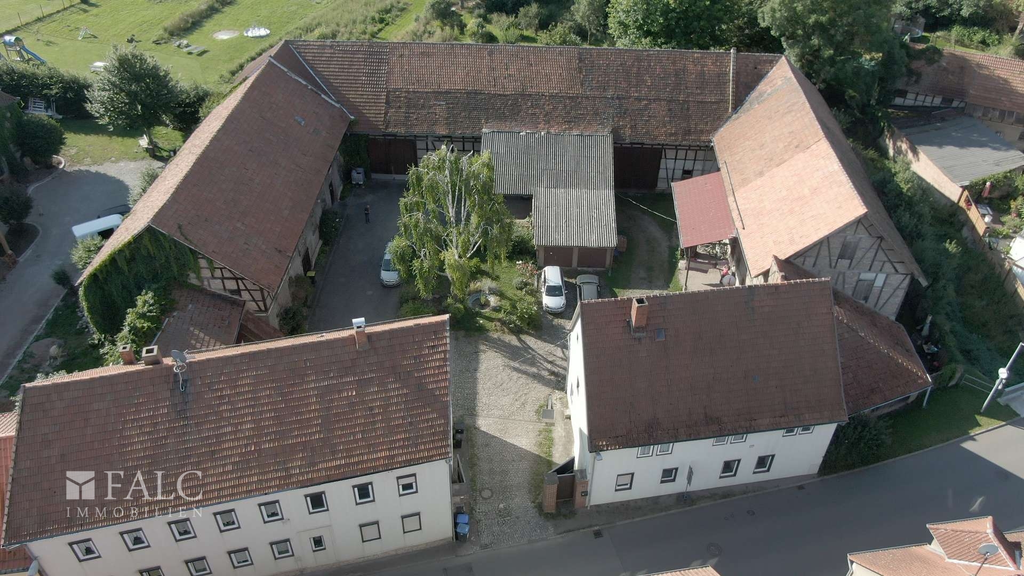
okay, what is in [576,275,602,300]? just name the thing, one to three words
car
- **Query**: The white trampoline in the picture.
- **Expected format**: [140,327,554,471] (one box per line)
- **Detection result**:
[242,26,270,38]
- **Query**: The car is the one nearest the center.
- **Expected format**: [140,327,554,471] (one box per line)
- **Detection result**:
[541,266,569,310]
